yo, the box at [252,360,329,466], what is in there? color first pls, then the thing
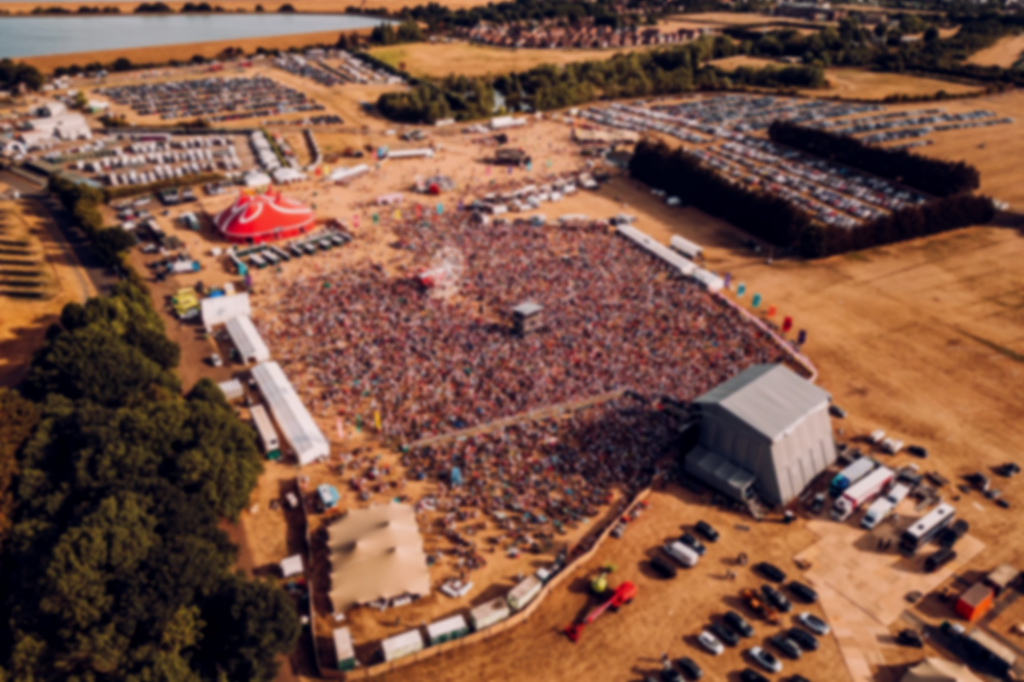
white tent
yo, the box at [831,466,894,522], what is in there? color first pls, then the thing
white truck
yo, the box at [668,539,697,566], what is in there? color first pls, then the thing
white car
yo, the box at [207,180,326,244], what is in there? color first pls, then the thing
red tent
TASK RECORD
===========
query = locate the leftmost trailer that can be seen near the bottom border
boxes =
[332,627,357,668]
